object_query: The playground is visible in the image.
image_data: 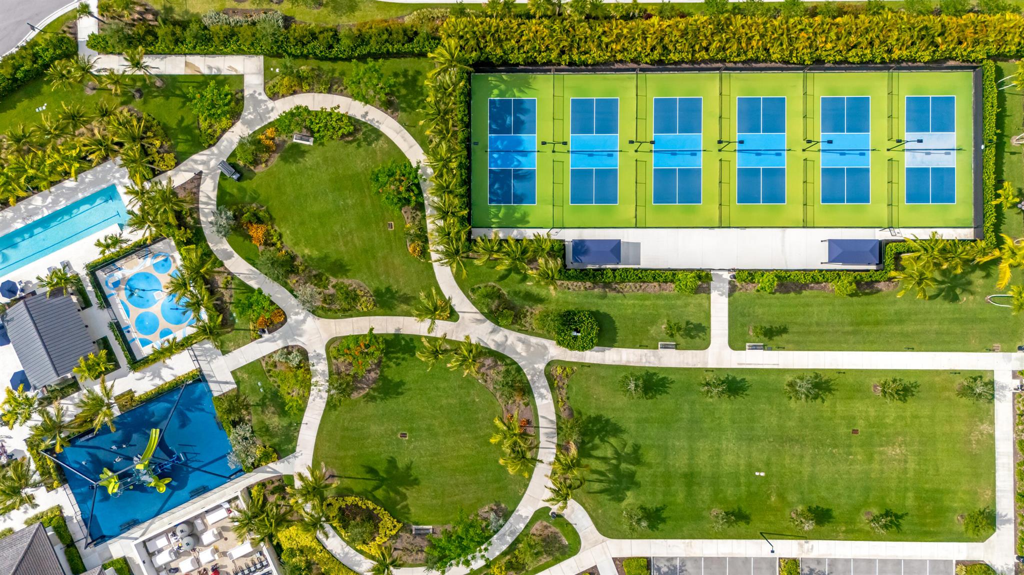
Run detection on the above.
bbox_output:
[54,381,242,552]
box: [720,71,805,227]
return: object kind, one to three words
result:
sports court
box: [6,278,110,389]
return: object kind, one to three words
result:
building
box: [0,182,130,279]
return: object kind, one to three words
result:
swimming pool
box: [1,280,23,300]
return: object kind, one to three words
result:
umbrella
